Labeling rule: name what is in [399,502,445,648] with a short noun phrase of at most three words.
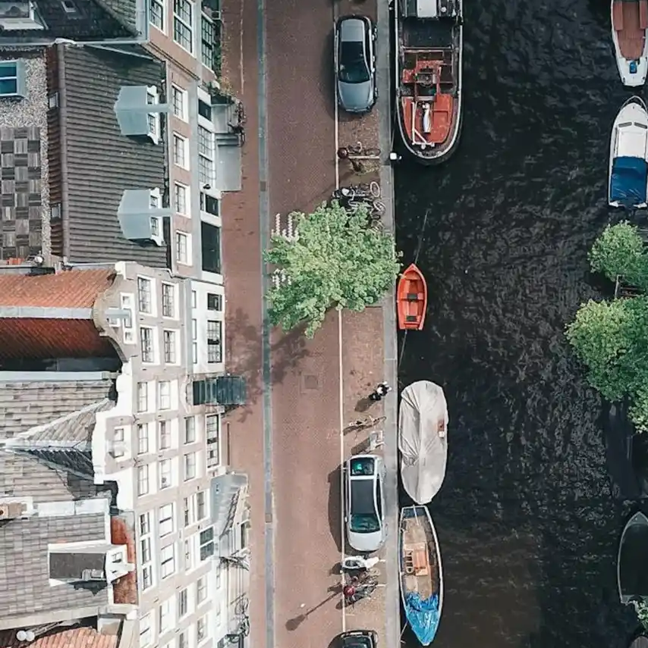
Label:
boat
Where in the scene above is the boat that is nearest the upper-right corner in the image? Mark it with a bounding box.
[611,0,648,90]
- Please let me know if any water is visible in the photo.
Yes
